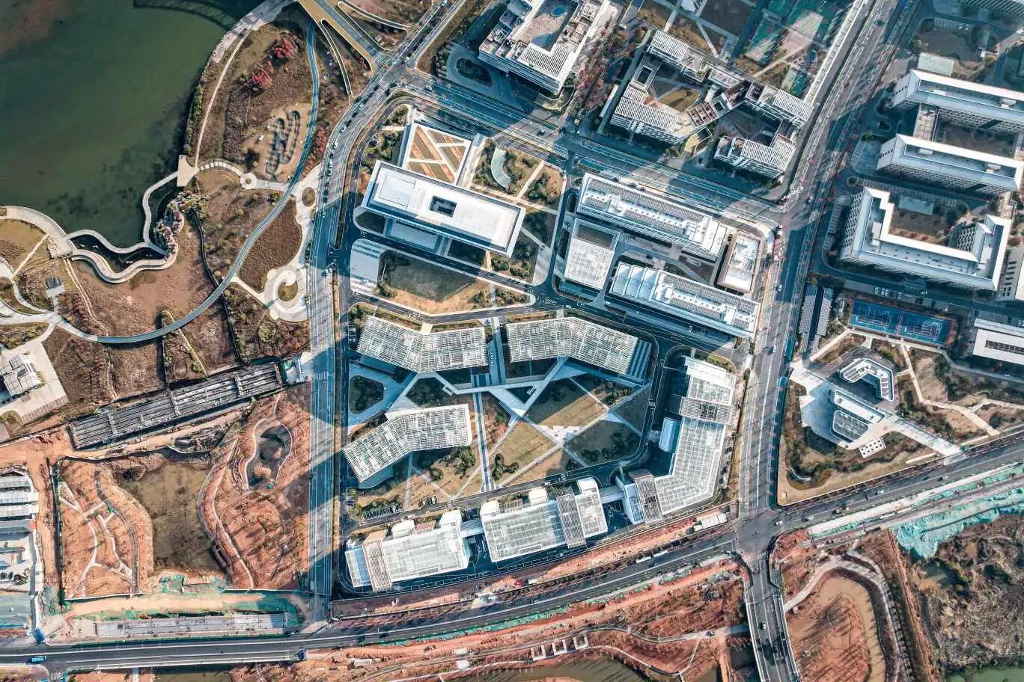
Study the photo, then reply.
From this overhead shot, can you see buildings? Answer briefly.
Yes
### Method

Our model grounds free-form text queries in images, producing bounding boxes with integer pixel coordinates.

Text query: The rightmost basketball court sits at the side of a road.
[899,311,954,346]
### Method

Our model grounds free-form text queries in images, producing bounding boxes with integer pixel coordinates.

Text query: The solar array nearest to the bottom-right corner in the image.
[836,414,865,434]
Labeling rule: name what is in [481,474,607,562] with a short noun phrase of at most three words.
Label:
building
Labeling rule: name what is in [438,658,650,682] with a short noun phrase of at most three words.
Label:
pond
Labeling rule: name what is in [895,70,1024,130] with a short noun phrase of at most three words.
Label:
building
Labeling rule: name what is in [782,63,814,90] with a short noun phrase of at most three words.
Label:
sports court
